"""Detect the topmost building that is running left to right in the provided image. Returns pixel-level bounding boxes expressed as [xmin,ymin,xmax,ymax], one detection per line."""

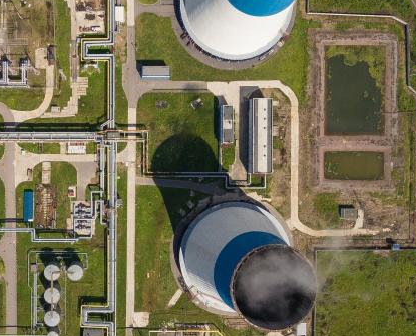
[142,65,170,77]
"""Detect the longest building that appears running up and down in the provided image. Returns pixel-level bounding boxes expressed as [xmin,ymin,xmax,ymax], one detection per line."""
[248,97,272,173]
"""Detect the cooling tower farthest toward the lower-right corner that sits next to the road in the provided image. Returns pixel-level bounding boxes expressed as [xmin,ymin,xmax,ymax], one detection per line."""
[169,190,319,332]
